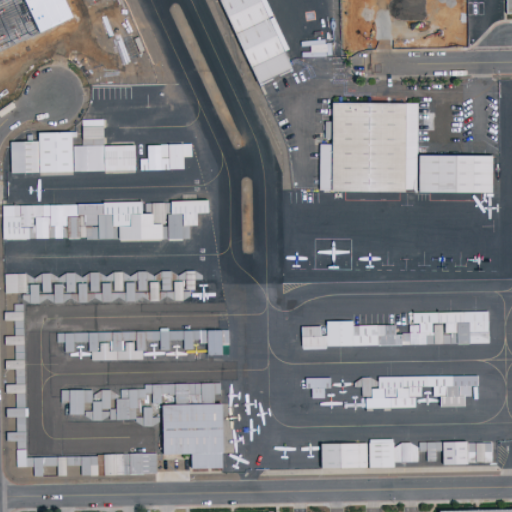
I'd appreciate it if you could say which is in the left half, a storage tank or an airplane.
airplane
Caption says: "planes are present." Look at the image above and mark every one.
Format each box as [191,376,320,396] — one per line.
[70,344,92,360]
[318,240,350,269]
[28,179,44,202]
[192,284,216,302]
[166,344,188,359]
[230,430,244,452]
[257,402,274,425]
[473,195,489,213]
[358,254,382,270]
[242,394,256,415]
[186,342,207,356]
[333,380,354,394]
[344,396,366,410]
[248,418,262,442]
[226,385,241,407]
[484,196,502,220]
[230,454,250,470]
[286,254,308,269]
[417,390,439,405]
[468,254,490,270]
[144,344,166,359]
[320,392,343,409]
[227,407,242,429]
[274,444,296,460]
[301,444,320,458]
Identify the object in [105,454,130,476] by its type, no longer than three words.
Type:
hangar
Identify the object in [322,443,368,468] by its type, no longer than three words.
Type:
hangar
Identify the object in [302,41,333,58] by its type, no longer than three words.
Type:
building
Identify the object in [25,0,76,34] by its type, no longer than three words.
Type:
building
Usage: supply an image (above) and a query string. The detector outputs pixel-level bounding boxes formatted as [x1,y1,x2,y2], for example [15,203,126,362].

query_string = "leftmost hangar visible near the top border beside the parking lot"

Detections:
[220,0,292,86]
